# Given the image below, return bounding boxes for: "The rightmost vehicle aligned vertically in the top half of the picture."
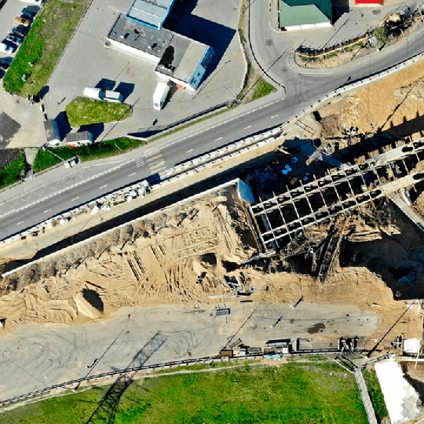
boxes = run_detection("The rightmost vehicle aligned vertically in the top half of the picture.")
[153,82,171,113]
